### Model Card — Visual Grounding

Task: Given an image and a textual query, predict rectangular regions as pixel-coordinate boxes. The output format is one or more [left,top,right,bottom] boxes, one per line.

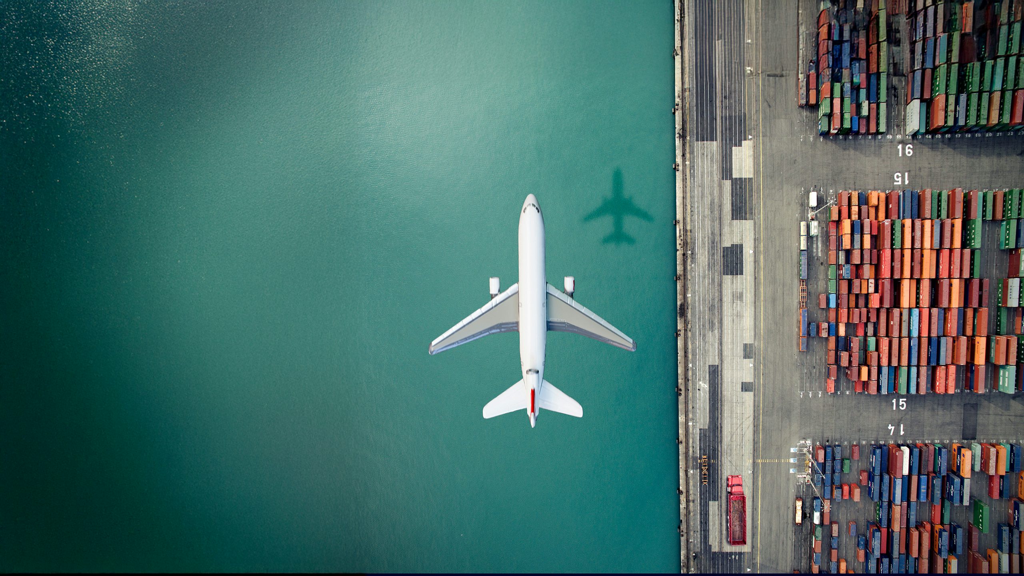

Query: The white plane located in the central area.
[426,191,633,431]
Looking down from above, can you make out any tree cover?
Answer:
No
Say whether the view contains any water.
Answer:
Yes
